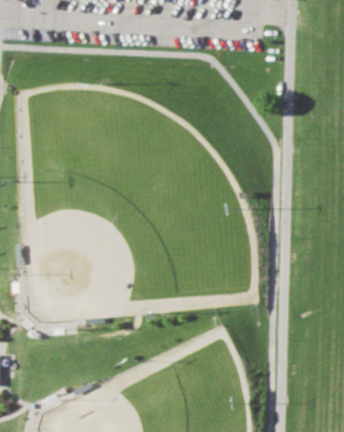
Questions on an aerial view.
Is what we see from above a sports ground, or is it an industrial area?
sports ground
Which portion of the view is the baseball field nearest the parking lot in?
center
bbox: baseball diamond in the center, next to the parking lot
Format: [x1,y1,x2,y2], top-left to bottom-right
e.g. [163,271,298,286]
[16,84,260,322]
